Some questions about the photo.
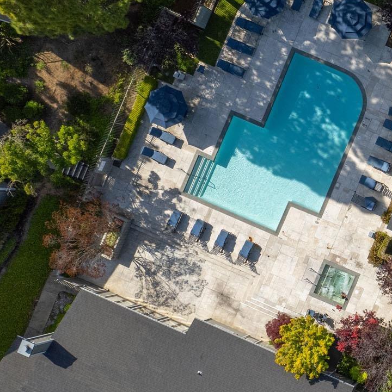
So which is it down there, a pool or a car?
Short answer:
pool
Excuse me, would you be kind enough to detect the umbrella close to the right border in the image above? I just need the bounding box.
[331,0,373,40]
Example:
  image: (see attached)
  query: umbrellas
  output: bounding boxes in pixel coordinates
[331,0,373,40]
[246,0,287,19]
[146,86,188,127]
